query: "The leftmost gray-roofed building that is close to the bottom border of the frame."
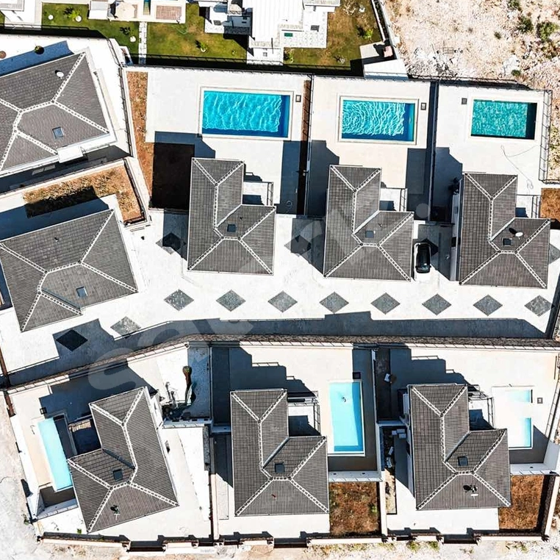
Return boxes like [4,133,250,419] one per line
[65,380,180,535]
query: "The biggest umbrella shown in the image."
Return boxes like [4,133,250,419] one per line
[116,1,138,23]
